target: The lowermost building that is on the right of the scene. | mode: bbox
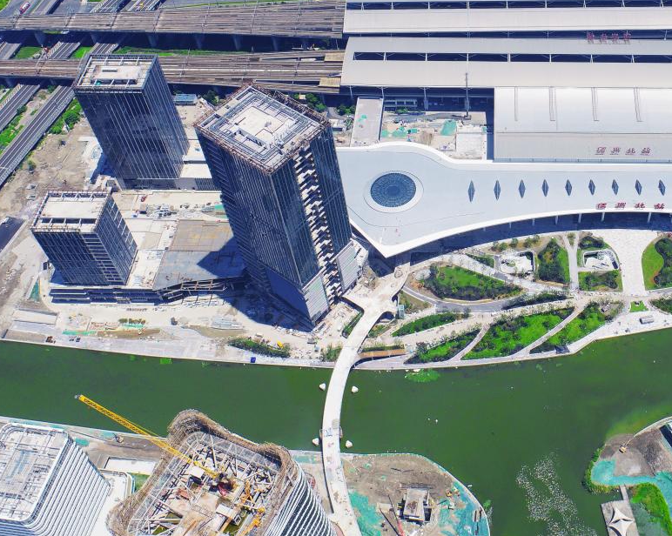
[399,491,435,526]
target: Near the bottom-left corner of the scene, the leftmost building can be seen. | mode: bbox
[0,422,103,536]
